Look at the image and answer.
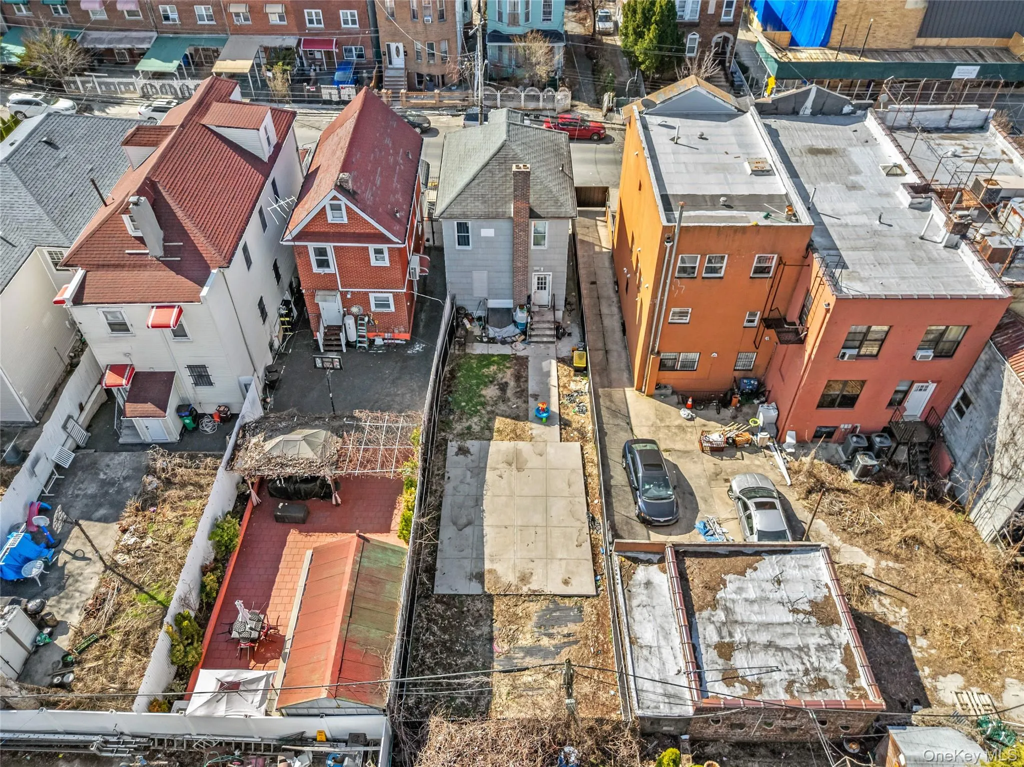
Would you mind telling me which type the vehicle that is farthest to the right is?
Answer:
automobile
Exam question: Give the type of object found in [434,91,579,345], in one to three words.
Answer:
house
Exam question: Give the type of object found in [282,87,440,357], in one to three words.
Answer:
house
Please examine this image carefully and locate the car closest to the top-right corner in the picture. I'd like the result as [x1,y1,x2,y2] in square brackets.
[595,7,616,33]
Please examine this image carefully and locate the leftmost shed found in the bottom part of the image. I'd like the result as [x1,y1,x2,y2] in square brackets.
[0,600,42,665]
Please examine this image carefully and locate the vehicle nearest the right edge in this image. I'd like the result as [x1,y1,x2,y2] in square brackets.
[740,475,797,538]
